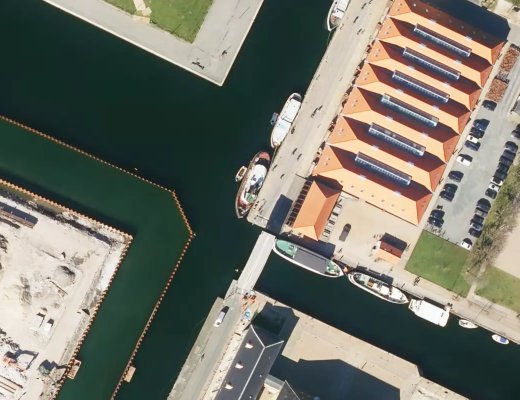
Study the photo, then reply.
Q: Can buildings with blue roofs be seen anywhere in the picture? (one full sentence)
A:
No, no building with a blue roof is visible in the view.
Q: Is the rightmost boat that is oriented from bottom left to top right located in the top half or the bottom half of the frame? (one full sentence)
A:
You can find the rightmost boat that is oriented from bottom left to top right in the top half.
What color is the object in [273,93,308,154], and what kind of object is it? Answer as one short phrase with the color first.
white boat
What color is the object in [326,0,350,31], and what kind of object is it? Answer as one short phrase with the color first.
white boat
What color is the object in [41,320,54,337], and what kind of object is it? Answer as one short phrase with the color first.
white vehicle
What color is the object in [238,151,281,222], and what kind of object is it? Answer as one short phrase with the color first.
white ship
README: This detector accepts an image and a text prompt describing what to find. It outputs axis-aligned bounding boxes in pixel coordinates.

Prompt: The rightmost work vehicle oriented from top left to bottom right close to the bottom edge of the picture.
[36,362,56,386]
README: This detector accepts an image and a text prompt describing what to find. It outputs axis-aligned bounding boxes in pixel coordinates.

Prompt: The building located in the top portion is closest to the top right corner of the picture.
[315,0,508,226]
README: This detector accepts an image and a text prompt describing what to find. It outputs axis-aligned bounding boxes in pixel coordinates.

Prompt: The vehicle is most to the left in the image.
[1,355,24,372]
